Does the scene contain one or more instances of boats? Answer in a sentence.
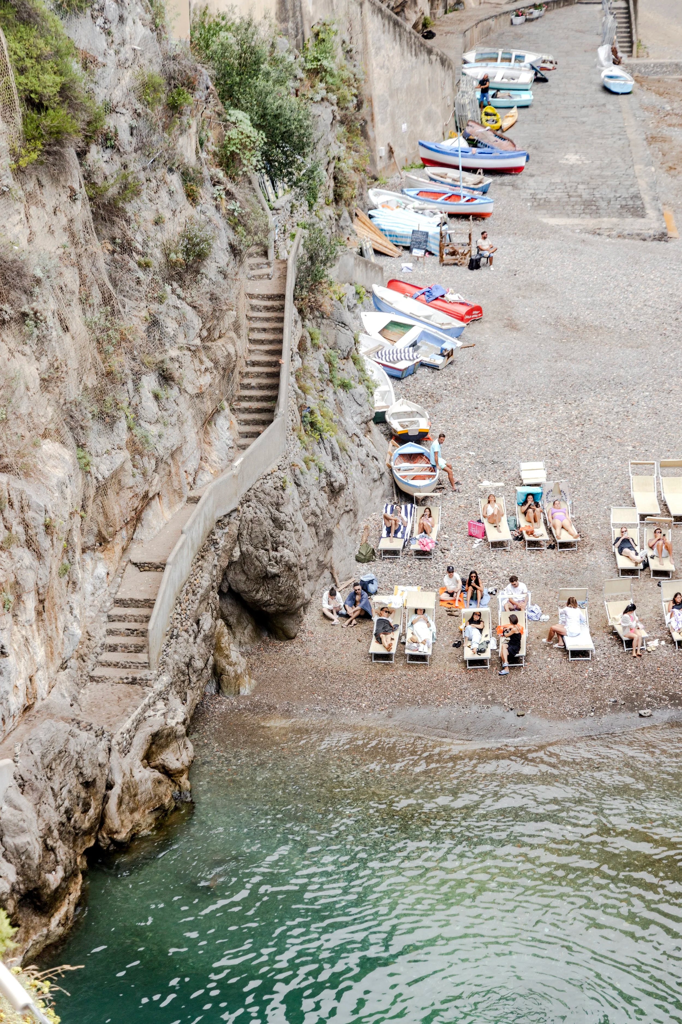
Yes, looking at the shot, I can spot a boat.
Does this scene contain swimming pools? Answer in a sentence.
No, I can't see a single swimming pool in this photo.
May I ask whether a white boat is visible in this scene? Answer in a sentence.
Yes, this view includes a white boat.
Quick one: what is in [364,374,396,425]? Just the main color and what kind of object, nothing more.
white boat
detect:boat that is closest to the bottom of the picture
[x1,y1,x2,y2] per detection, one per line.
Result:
[392,445,437,500]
